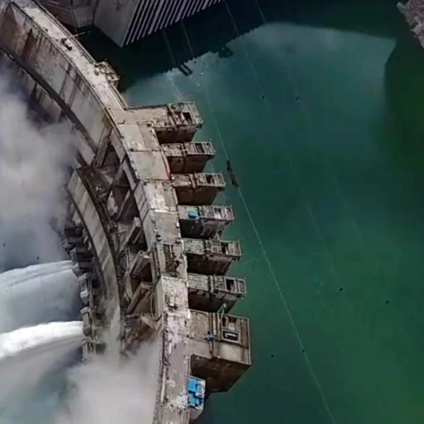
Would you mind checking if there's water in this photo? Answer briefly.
Yes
